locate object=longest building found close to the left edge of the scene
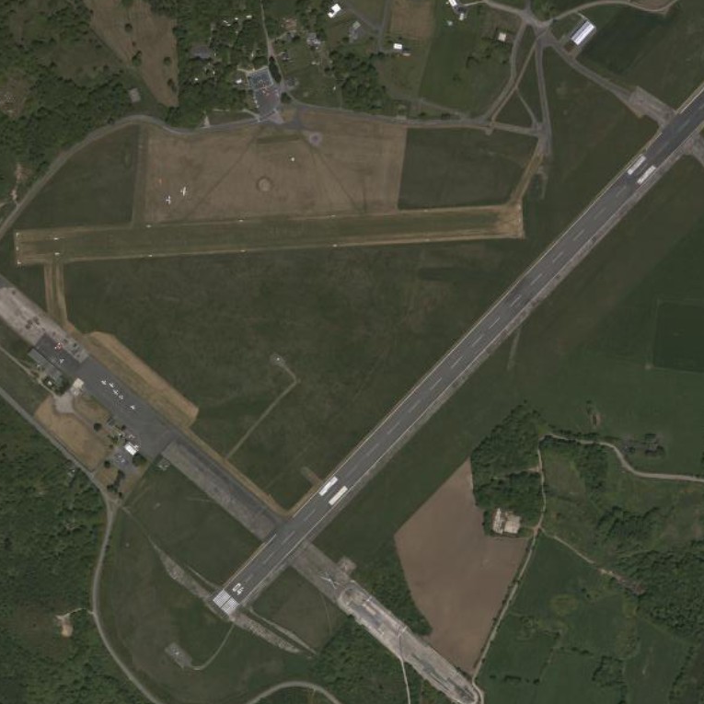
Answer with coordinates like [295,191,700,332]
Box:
[28,349,62,380]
